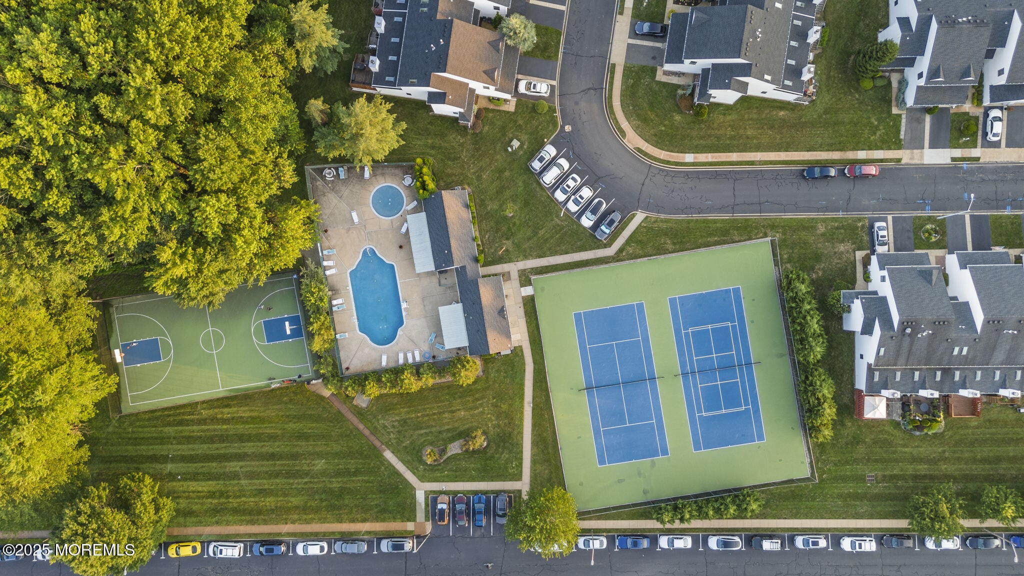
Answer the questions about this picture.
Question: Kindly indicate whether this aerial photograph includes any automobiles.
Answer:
Yes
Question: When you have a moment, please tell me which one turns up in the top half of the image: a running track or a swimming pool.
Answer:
swimming pool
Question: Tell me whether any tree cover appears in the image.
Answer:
Yes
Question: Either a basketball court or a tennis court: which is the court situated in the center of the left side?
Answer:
basketball court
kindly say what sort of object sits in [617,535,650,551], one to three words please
car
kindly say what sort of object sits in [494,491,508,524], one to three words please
car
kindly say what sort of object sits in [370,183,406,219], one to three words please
swimming pool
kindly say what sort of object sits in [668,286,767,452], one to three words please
tennis court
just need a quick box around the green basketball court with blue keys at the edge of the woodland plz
[105,274,314,415]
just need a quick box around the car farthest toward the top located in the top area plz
[634,20,667,37]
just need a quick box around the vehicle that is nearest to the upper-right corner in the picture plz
[985,109,1004,142]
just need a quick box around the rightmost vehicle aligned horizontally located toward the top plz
[845,163,878,178]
